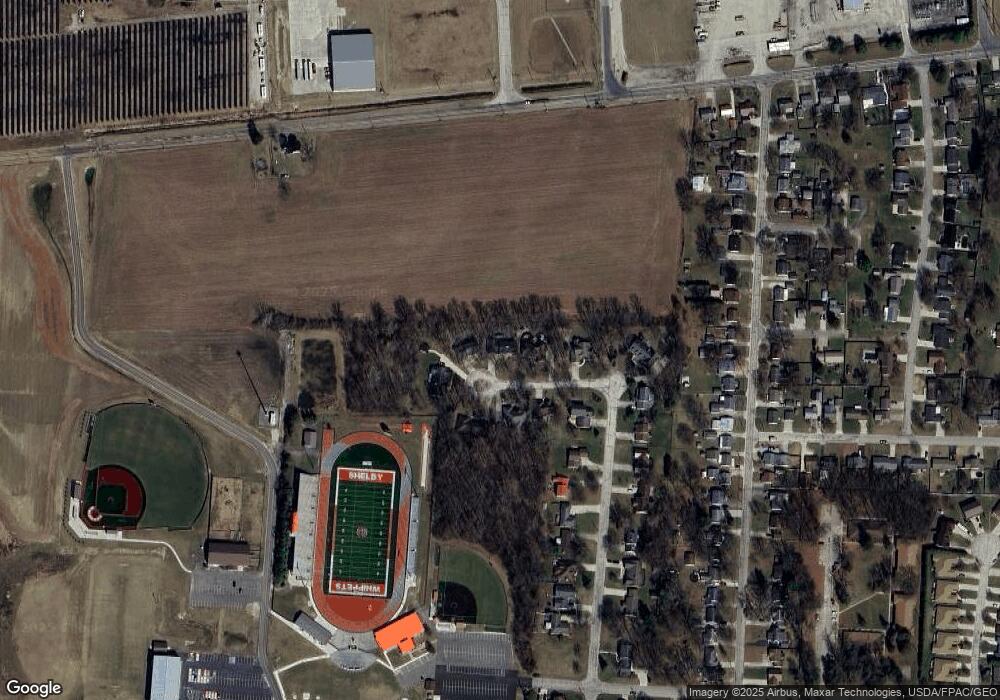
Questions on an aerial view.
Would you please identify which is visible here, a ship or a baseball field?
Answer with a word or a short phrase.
baseball field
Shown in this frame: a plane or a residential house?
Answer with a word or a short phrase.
residential house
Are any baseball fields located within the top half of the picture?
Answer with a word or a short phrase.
No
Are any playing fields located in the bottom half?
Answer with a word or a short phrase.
Yes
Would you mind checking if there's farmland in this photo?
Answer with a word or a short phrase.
Yes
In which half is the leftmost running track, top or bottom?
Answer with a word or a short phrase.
bottom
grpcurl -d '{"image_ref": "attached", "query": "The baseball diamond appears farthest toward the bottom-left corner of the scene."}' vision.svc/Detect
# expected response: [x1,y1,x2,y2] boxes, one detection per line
[82,403,209,529]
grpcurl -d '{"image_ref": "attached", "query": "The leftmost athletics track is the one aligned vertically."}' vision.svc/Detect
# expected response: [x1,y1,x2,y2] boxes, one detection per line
[312,429,411,633]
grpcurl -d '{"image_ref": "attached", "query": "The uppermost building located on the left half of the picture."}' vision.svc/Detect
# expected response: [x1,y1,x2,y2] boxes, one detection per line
[332,33,375,92]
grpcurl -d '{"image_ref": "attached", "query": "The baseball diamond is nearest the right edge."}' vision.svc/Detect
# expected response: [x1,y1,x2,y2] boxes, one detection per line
[439,547,506,632]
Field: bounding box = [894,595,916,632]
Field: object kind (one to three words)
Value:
building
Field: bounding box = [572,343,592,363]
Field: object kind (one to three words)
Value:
house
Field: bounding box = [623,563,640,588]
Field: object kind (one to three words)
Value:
house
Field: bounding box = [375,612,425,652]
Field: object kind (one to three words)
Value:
building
